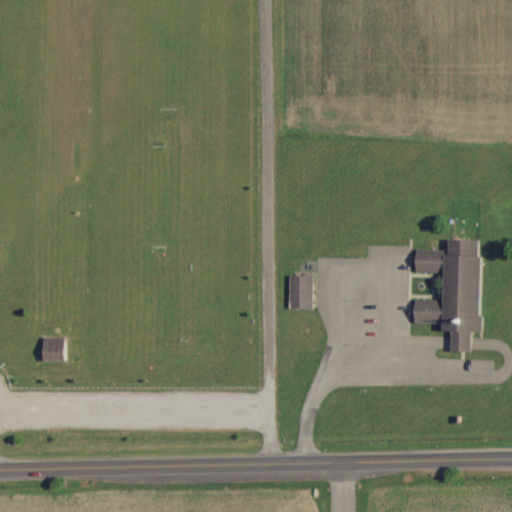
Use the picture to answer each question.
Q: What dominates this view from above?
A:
grass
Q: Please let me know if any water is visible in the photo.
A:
No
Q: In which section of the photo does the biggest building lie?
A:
right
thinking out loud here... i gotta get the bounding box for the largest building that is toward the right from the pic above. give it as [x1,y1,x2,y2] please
[412,240,482,352]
